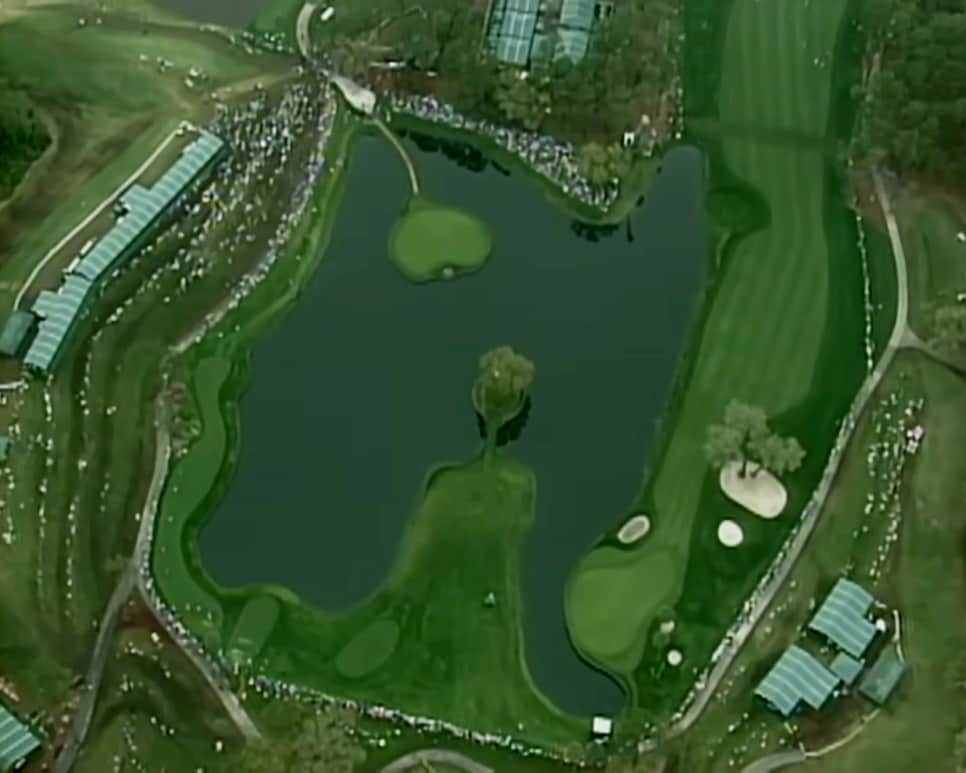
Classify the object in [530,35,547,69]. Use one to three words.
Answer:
tent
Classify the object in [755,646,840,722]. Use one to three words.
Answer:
building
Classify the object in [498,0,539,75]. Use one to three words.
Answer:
building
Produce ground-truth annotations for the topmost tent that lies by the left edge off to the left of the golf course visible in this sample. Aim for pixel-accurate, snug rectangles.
[0,311,36,363]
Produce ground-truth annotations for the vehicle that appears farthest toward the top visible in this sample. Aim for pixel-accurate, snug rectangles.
[322,6,334,18]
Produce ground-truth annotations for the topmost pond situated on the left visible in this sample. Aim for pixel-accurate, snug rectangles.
[152,0,268,28]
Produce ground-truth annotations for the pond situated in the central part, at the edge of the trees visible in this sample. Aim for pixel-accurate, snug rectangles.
[199,131,710,720]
